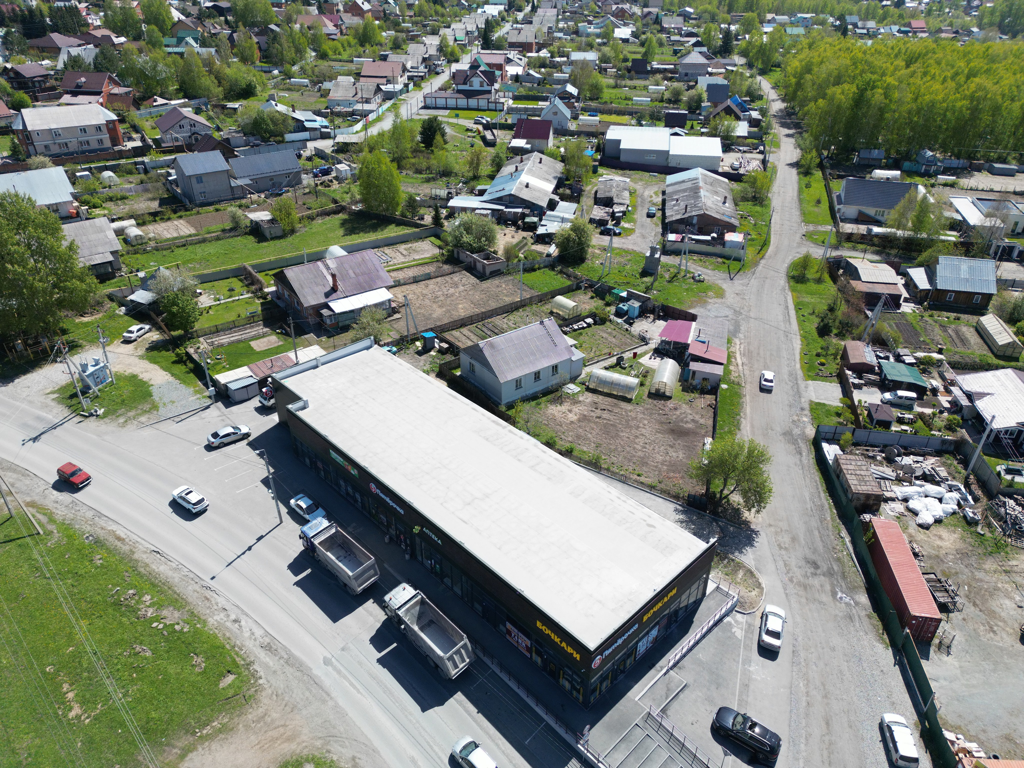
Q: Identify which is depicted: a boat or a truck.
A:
truck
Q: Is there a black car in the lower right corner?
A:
Yes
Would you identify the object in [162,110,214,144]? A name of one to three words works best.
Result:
house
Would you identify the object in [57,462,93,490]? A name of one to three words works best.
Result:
car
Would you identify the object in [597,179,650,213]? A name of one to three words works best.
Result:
shed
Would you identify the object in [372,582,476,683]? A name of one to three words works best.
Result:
truck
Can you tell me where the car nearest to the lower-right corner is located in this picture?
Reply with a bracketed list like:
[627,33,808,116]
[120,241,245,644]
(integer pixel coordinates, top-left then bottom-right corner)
[879,709,922,768]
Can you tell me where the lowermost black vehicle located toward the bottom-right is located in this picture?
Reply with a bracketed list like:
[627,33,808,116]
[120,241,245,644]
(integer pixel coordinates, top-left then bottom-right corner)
[709,710,782,762]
